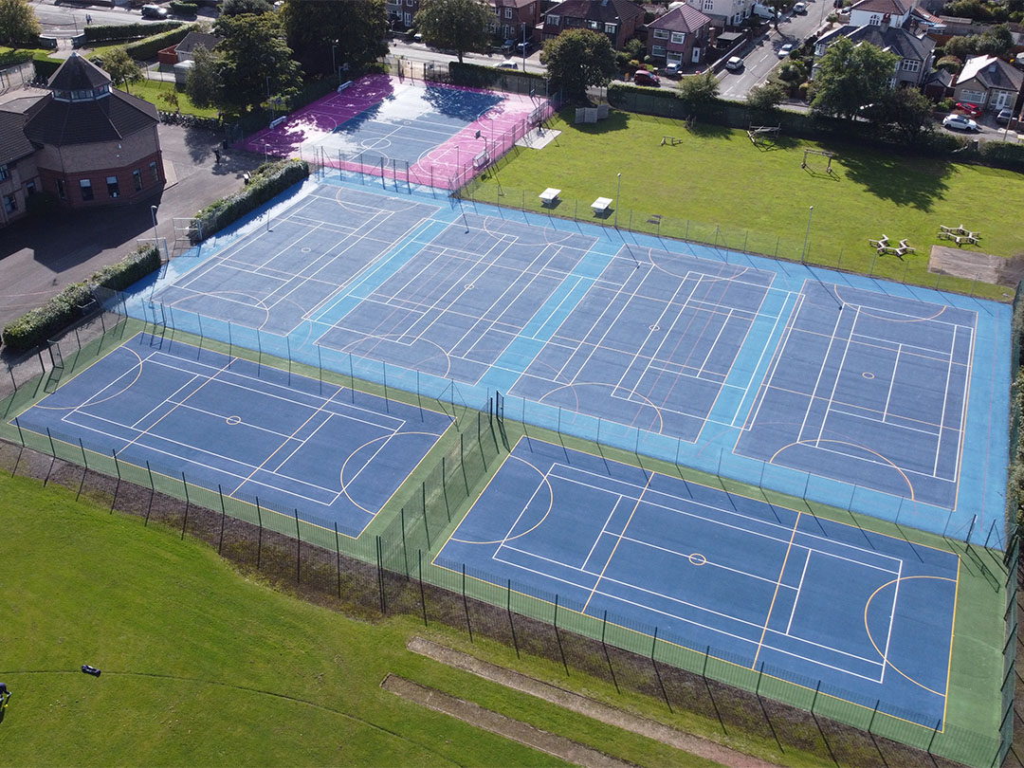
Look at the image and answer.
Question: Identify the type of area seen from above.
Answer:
sports ground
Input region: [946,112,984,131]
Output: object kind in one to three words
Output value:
car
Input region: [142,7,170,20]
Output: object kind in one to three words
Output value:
vehicle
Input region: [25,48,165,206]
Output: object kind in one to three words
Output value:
building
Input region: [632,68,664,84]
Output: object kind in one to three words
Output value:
car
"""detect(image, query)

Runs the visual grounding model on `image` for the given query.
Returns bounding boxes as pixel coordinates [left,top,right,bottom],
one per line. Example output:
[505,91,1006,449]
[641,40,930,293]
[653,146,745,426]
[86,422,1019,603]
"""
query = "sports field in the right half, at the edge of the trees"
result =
[456,97,1024,301]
